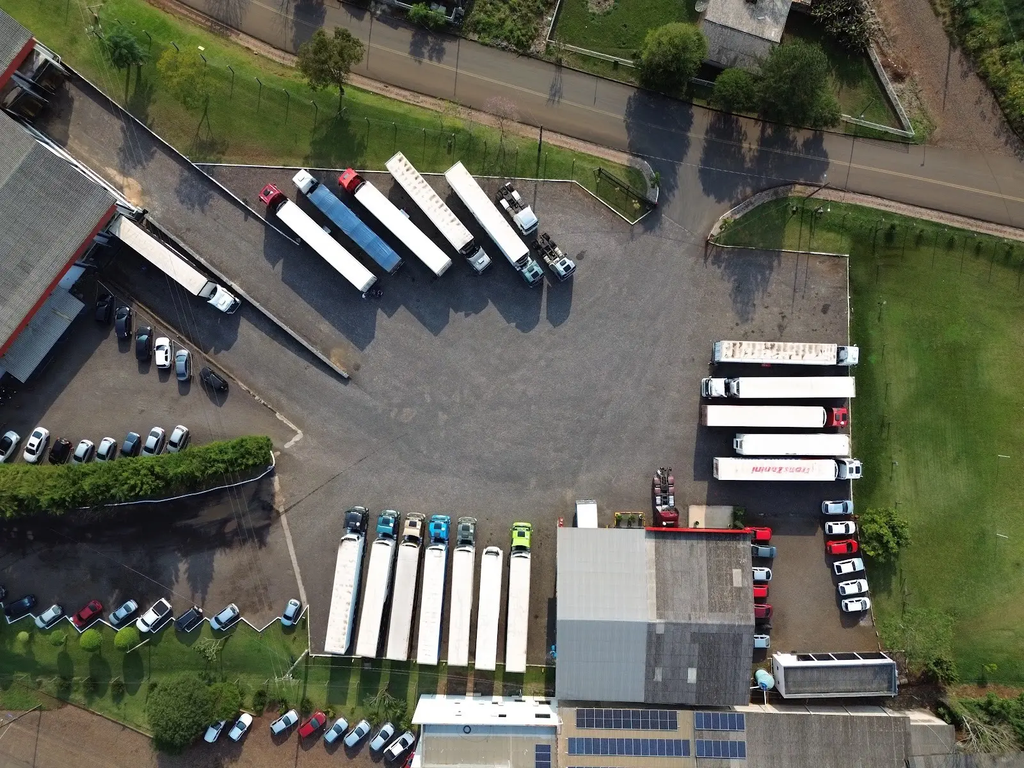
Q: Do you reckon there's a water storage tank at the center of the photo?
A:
No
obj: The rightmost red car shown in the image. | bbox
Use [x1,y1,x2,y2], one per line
[824,538,858,554]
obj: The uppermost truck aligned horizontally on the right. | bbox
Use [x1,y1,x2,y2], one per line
[713,339,857,368]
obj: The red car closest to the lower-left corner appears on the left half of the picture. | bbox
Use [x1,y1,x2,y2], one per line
[69,596,107,629]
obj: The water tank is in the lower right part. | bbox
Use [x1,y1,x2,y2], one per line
[751,659,776,692]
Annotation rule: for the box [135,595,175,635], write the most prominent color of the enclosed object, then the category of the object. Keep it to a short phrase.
white truck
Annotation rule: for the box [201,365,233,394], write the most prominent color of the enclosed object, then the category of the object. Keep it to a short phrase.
black car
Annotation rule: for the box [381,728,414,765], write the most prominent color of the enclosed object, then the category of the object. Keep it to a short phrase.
white truck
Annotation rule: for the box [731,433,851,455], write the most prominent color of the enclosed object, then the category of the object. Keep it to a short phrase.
white trailer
